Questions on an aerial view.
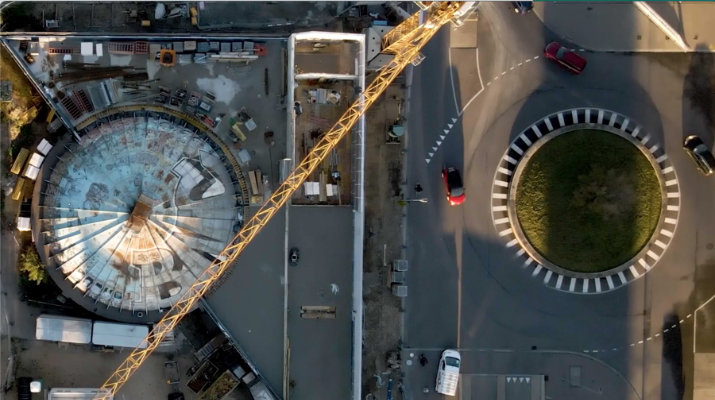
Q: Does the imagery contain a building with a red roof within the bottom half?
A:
No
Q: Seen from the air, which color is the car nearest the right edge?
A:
black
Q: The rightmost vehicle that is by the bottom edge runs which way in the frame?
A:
from top to bottom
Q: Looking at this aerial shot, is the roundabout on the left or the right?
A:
right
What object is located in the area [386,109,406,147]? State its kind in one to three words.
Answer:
work vehicle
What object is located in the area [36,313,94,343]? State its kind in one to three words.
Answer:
building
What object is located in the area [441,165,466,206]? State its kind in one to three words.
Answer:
car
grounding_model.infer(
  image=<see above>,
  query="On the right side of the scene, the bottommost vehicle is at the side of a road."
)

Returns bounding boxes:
[434,348,462,398]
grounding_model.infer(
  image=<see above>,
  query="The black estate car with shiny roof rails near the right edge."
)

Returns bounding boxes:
[682,134,715,175]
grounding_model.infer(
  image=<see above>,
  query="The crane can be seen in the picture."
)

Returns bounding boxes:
[84,0,471,400]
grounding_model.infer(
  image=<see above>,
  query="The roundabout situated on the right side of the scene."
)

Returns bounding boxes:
[492,107,680,295]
